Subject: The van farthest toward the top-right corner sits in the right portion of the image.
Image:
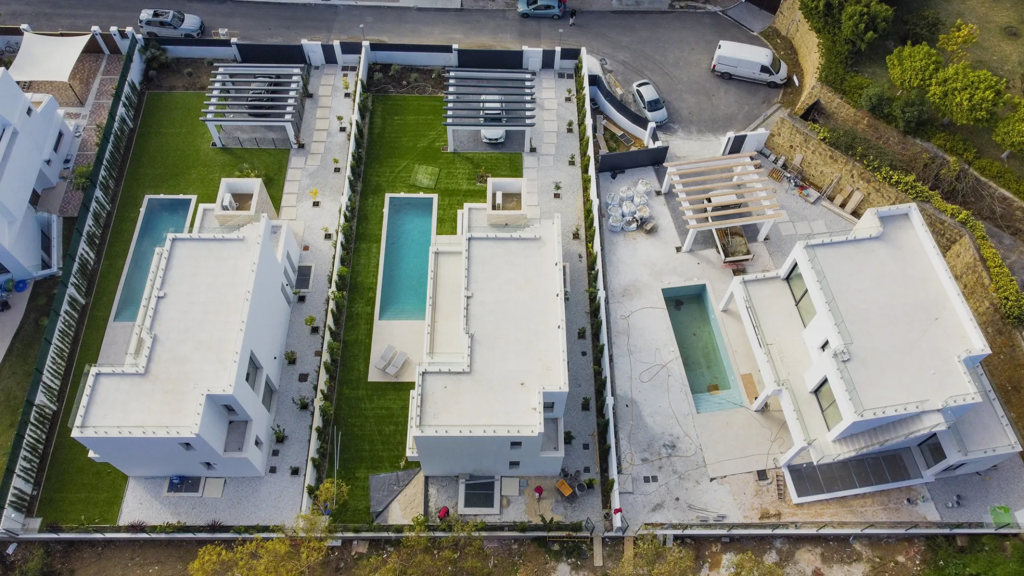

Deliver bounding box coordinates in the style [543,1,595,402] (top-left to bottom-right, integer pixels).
[711,30,799,87]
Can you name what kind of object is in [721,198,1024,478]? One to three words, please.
house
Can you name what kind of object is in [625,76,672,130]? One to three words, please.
car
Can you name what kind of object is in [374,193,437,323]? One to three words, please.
swimming pool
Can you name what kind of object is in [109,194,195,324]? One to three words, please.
swimming pool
